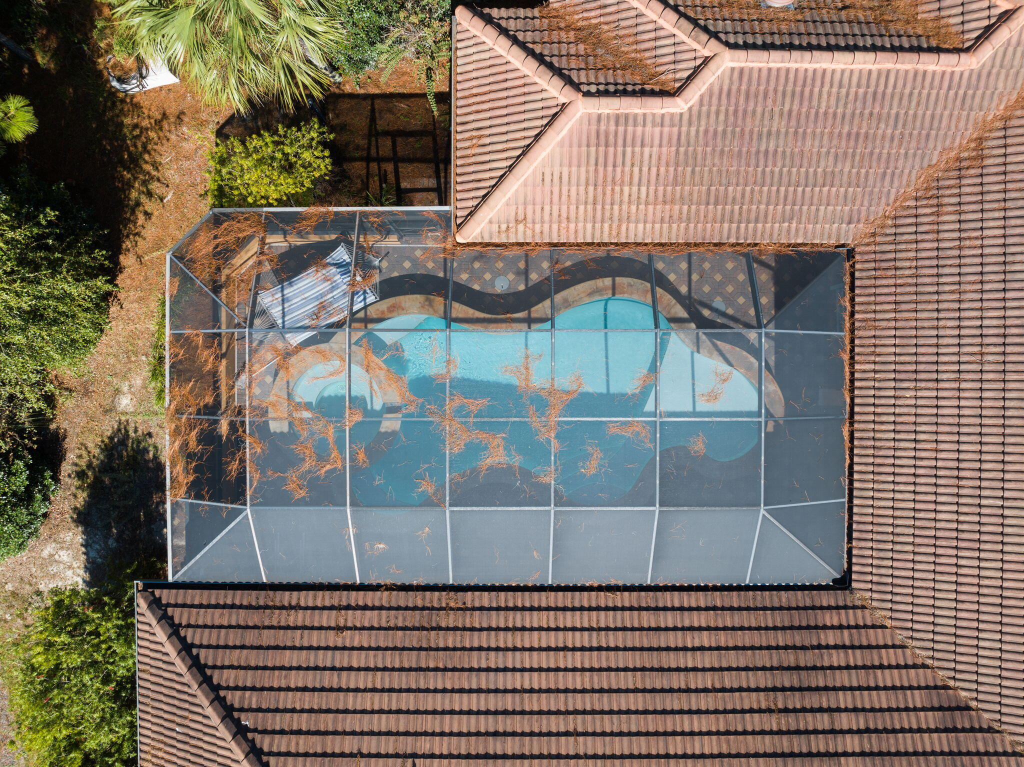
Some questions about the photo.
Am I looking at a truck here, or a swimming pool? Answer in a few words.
swimming pool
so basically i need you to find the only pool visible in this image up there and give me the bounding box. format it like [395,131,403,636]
[269,277,781,532]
